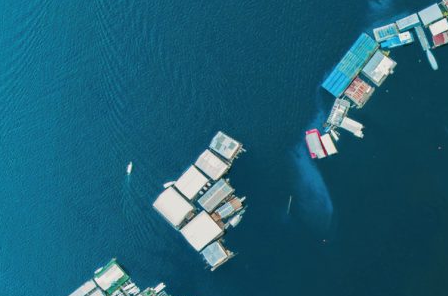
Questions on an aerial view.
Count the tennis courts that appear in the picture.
zero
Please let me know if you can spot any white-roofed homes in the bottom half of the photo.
Yes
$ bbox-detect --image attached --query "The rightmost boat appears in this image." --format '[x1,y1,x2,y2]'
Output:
[425,48,437,70]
